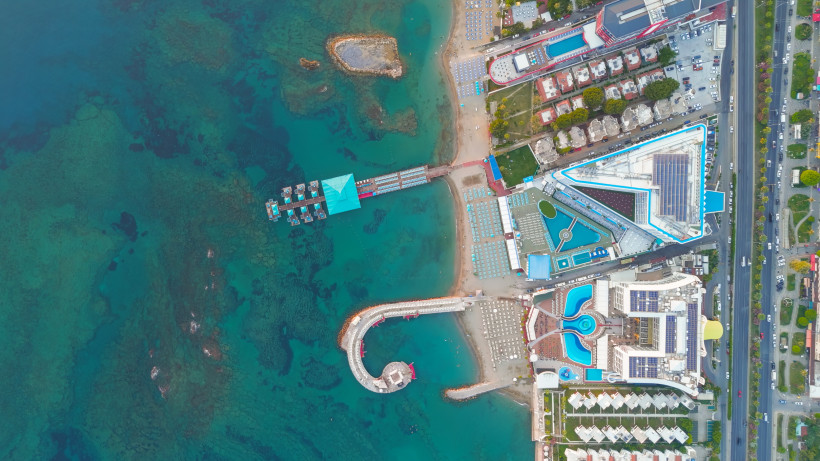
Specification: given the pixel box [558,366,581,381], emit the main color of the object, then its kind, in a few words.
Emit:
blue swimming pool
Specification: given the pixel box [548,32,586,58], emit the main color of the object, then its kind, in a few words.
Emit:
blue swimming pool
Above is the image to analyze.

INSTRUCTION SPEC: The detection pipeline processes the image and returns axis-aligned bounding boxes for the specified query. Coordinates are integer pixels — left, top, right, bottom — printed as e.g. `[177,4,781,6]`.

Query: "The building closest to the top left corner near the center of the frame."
[322,174,361,215]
